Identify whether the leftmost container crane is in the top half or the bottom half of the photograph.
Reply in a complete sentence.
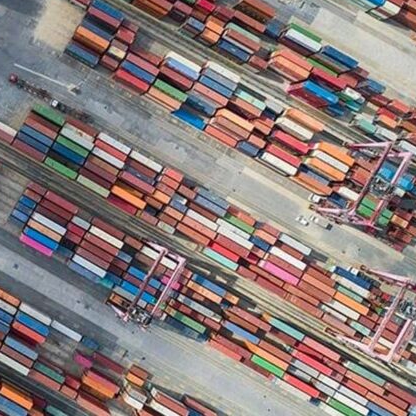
The leftmost container crane sits in the bottom half of the picture.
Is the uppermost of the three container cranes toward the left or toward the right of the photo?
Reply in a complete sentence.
You can find the uppermost of the three container cranes on the right side of the picture.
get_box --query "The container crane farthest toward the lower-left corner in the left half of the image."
[104,237,188,330]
